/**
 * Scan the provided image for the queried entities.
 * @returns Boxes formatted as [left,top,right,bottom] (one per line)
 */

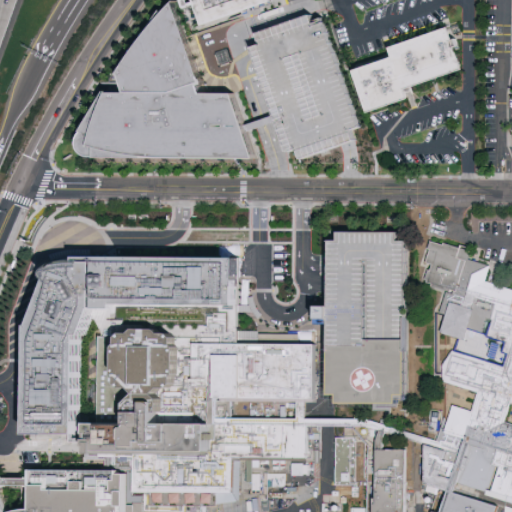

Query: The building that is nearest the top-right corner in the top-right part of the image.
[350,27,462,112]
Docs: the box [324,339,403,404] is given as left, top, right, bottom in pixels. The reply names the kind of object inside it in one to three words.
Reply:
helipad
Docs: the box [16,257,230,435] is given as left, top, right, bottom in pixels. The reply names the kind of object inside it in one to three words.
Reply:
building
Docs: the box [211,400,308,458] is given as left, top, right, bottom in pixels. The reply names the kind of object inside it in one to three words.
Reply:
building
